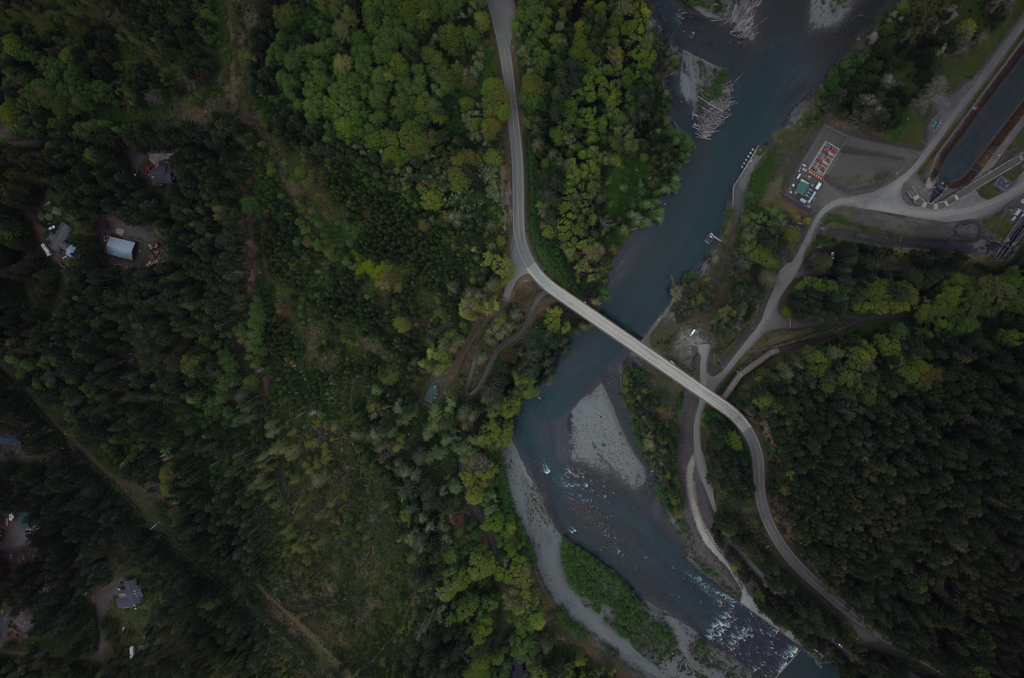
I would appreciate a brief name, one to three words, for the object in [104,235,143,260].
barn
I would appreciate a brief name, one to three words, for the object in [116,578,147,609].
house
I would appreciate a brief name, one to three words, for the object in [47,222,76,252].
house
